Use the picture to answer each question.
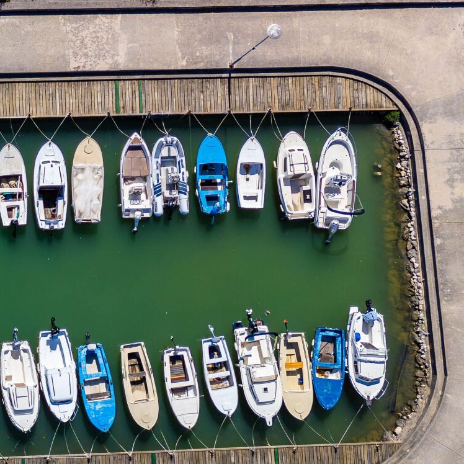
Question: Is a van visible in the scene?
No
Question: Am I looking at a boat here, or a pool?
boat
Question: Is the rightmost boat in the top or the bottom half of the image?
bottom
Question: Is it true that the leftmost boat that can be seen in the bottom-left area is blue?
No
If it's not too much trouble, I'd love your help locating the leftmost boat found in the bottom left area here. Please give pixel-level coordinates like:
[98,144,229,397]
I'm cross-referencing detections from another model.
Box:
[0,327,40,431]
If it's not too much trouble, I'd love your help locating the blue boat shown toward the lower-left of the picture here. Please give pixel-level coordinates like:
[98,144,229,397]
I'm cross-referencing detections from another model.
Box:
[78,333,115,431]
